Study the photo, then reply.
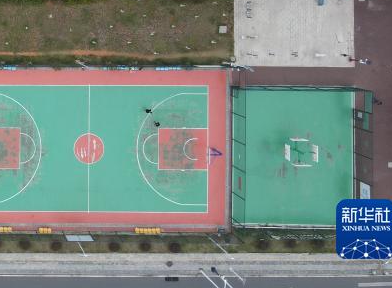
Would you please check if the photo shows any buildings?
No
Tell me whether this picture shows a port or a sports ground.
sports ground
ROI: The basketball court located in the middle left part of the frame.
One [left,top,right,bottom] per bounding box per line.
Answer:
[0,85,208,213]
